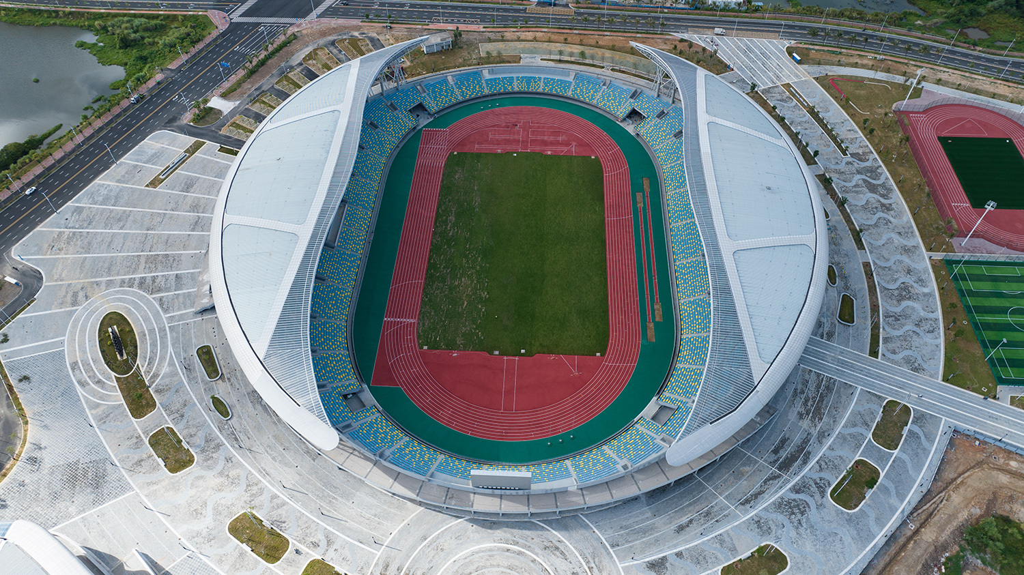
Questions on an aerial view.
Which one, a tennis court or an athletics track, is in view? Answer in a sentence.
I can see an athletics track in this picture.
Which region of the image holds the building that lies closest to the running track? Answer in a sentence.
The building that lies closest to the running track is in the top part of the image.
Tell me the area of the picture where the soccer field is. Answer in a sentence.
You can find the soccer field in the right area of the picture.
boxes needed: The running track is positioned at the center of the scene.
[385,106,641,441]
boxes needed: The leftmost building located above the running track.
[420,32,454,61]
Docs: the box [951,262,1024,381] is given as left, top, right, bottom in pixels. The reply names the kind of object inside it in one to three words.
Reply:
soccer field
